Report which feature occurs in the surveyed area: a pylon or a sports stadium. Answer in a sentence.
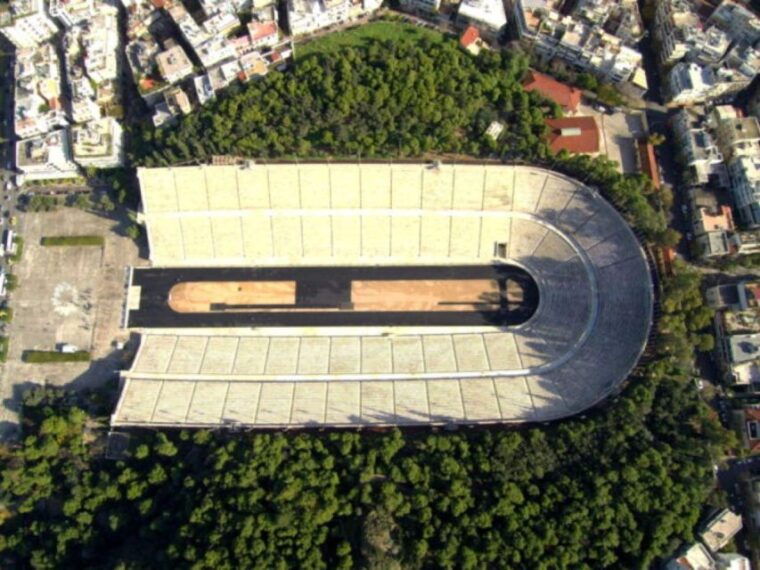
There is a sports stadium in the scene.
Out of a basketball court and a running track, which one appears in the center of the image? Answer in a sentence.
The one visible in the center of the image is a running track.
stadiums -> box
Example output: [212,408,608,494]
[107,163,656,429]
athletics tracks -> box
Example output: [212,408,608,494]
[123,264,541,329]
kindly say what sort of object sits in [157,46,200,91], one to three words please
building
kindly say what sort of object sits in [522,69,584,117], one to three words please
building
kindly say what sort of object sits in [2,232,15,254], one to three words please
vehicle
